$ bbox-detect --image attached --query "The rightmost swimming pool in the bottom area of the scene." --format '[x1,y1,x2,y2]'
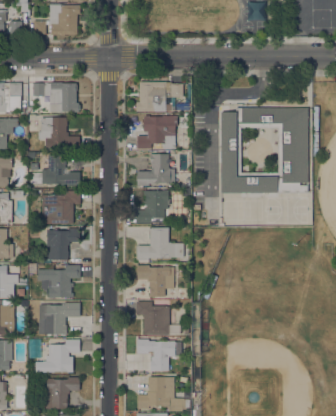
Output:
[29,338,43,359]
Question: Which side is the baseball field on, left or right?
right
